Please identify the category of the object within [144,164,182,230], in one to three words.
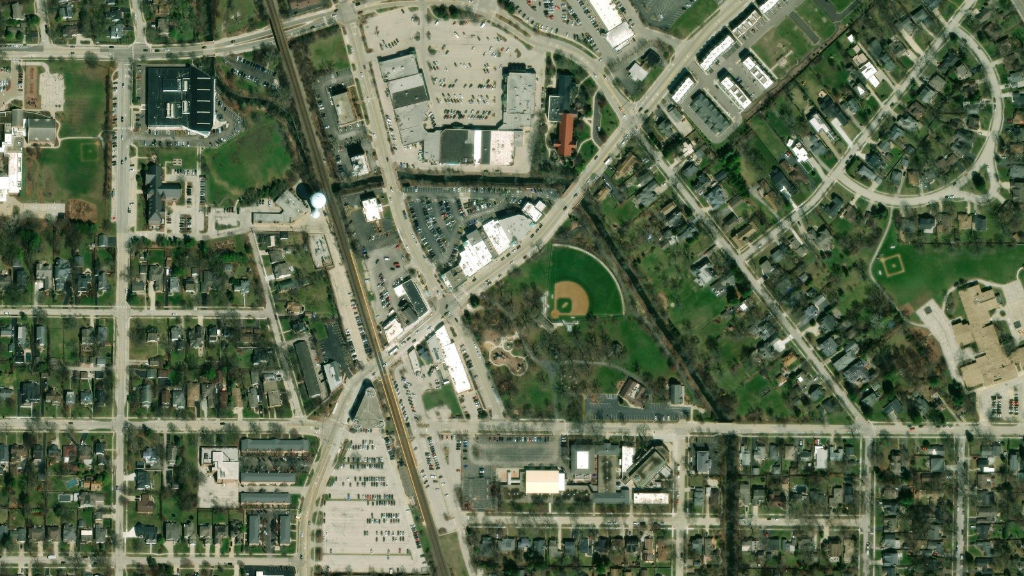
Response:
building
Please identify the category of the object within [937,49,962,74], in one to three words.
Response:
house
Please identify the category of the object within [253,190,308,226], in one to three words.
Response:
building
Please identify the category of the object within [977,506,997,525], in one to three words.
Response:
house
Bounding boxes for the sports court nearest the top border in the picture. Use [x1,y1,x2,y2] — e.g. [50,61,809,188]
[40,72,64,110]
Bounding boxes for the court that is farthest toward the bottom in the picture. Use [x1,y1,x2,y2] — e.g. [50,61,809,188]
[0,195,65,219]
